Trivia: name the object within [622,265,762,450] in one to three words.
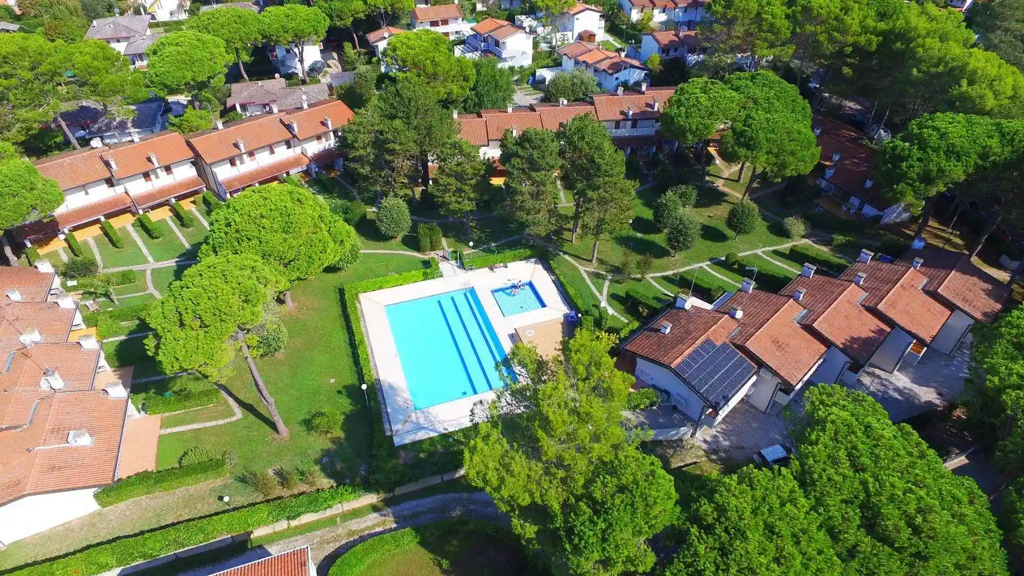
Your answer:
house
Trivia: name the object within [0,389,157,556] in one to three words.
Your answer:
house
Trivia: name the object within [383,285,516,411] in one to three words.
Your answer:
swimming pool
